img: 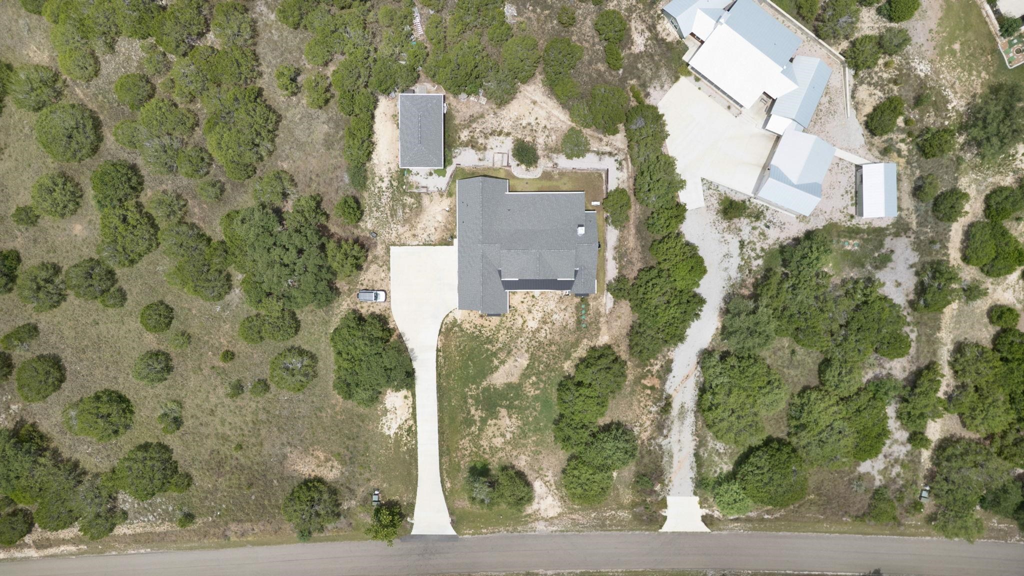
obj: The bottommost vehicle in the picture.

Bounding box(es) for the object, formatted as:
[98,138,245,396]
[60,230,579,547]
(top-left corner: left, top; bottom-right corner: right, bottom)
[357,289,385,302]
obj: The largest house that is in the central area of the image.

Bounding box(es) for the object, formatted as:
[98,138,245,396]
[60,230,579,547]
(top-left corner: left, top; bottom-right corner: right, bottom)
[456,177,598,316]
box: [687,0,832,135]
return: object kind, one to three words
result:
house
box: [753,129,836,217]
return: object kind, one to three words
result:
building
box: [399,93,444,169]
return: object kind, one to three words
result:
building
